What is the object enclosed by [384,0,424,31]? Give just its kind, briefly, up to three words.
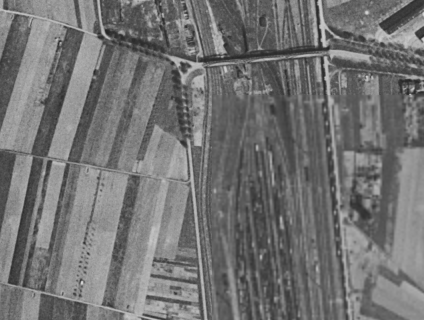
building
